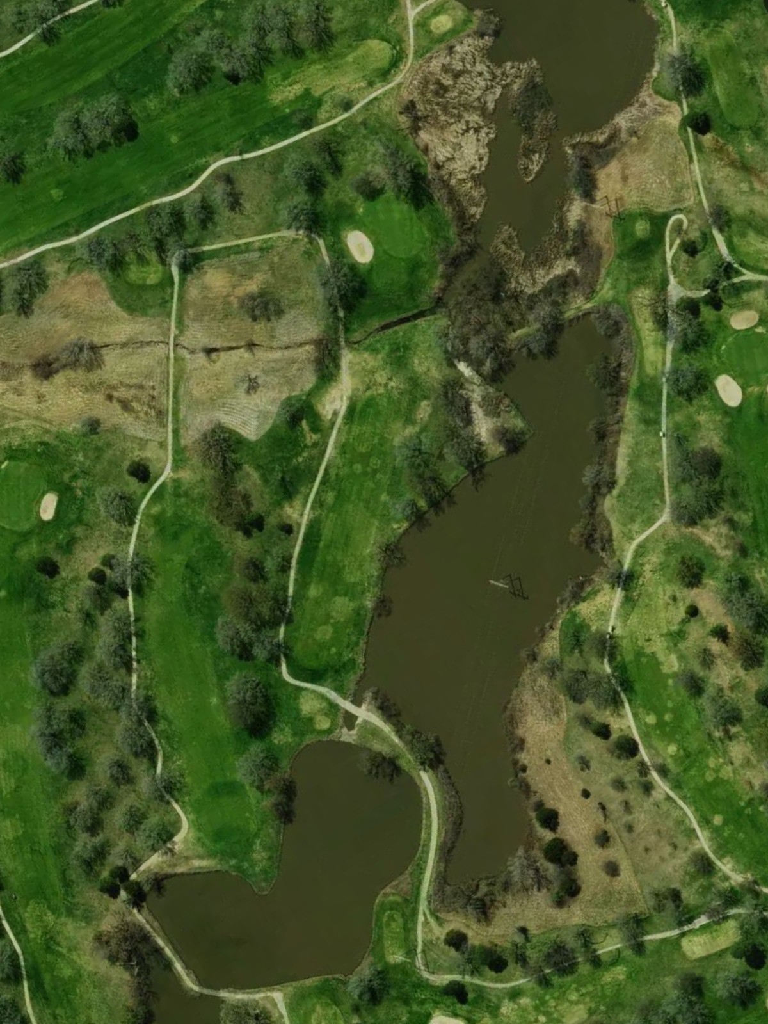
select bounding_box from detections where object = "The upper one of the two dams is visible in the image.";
[358,717,456,915]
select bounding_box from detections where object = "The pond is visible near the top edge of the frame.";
[438,0,671,308]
